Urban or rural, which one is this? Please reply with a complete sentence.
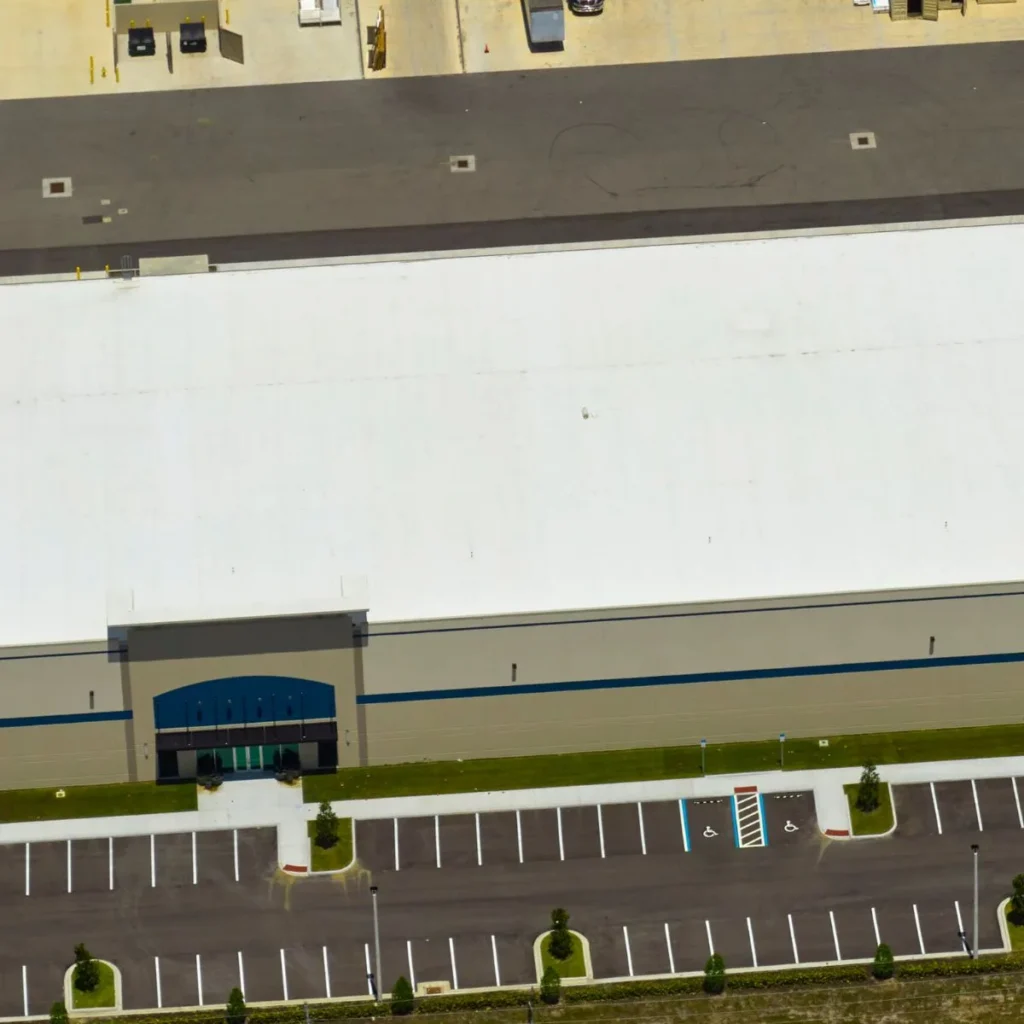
This place is urban.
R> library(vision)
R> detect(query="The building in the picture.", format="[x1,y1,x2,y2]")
[0,224,1024,790]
